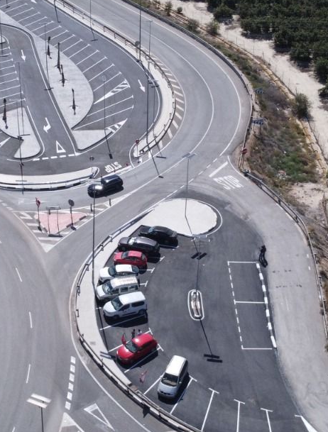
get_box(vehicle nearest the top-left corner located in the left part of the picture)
[86,171,126,196]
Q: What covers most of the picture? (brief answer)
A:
paved ground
